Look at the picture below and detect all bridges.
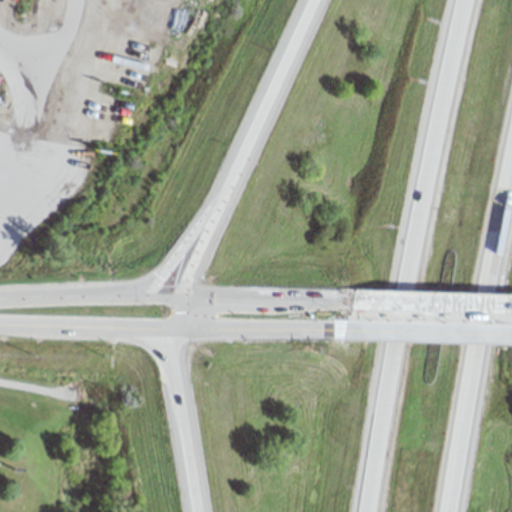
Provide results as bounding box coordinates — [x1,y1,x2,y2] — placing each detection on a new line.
[350,290,512,344]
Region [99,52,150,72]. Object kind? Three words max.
vehicle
